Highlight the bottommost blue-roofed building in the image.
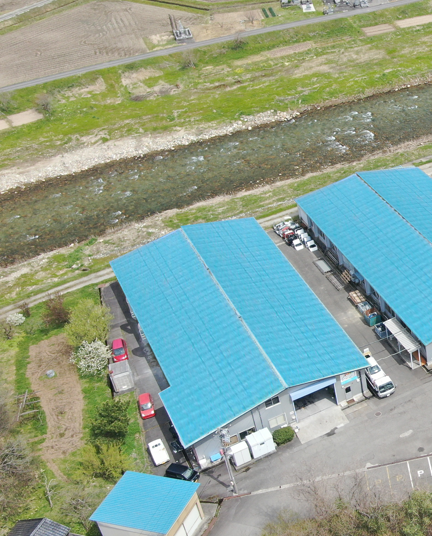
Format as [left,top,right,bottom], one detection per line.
[87,473,198,536]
